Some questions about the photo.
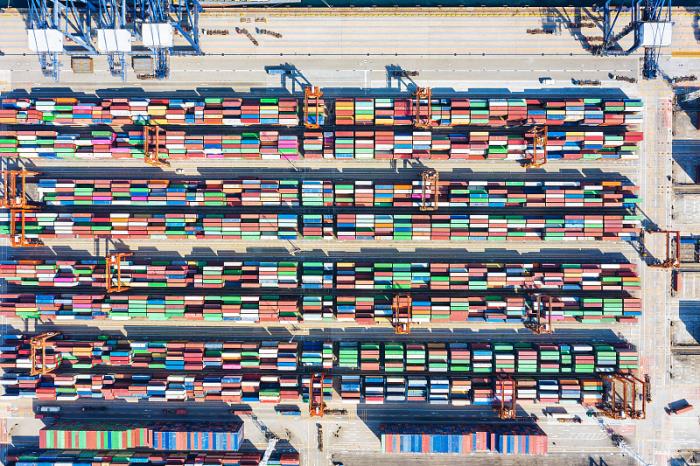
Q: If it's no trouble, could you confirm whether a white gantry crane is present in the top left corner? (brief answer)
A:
Yes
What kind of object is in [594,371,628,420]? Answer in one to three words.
crane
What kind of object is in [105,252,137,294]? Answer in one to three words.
crane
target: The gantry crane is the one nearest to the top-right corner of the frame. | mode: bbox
[598,0,679,84]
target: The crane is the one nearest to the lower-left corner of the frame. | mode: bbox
[29,330,66,376]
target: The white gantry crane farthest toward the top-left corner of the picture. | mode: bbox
[27,0,107,85]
